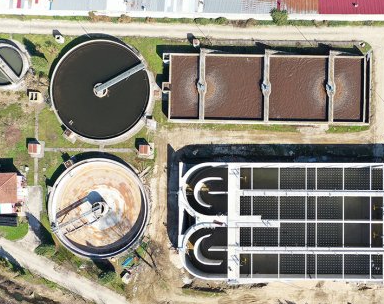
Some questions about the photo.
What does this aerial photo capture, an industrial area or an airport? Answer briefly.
industrial area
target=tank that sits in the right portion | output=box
[180,161,384,284]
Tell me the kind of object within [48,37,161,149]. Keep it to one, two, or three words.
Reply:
storage tank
